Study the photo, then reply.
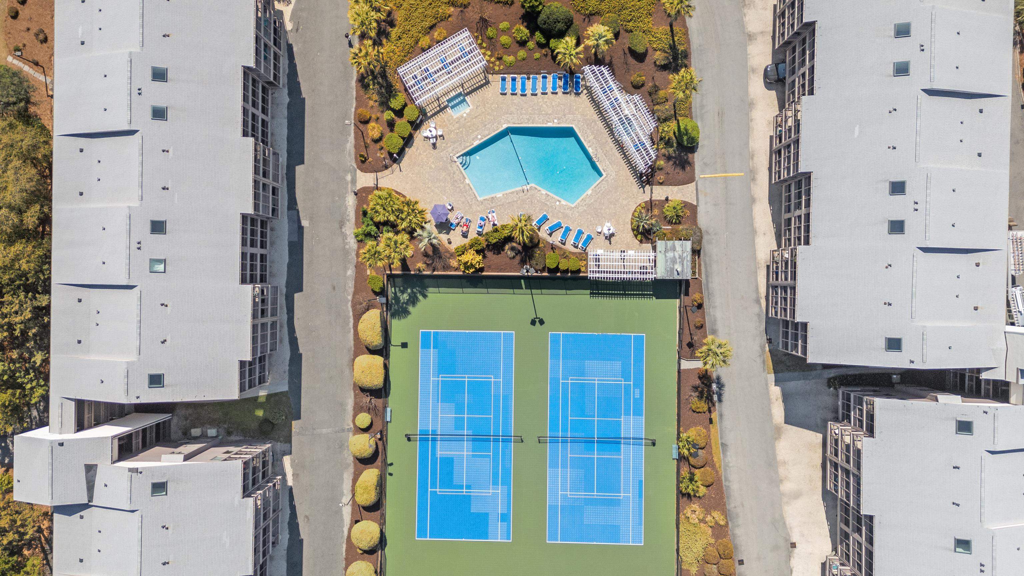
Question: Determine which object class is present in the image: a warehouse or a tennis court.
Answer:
tennis court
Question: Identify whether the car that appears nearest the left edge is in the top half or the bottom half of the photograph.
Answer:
top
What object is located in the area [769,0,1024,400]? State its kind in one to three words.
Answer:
building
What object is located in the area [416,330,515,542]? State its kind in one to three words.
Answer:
tennis court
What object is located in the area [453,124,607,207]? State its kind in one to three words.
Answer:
swimming pool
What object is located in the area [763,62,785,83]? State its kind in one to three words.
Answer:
car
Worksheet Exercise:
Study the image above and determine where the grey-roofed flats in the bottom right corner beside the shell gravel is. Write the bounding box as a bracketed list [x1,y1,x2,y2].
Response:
[826,378,1024,576]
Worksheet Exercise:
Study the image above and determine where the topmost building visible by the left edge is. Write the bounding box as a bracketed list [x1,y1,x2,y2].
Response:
[50,0,283,436]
